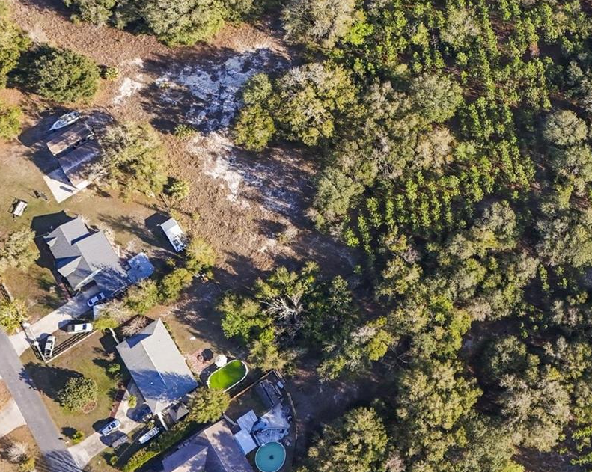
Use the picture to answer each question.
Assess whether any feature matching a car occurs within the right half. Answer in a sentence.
No, the scene shows no car within the right half.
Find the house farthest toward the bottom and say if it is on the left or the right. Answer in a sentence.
The house farthest toward the bottom is on the left side of the image.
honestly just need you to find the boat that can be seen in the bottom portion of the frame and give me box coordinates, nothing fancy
[139,428,160,442]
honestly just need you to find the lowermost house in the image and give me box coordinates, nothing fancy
[146,419,257,472]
